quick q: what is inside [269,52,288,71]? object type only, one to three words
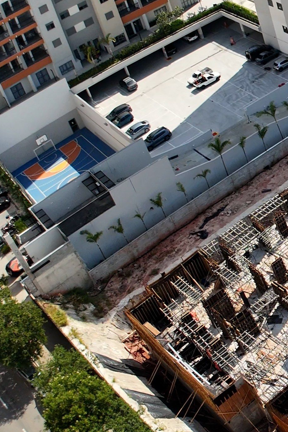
car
